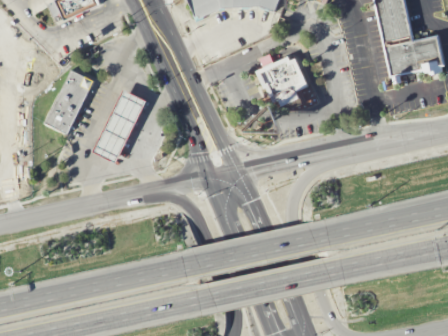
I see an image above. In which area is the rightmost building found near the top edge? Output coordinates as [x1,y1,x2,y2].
[374,0,445,90]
